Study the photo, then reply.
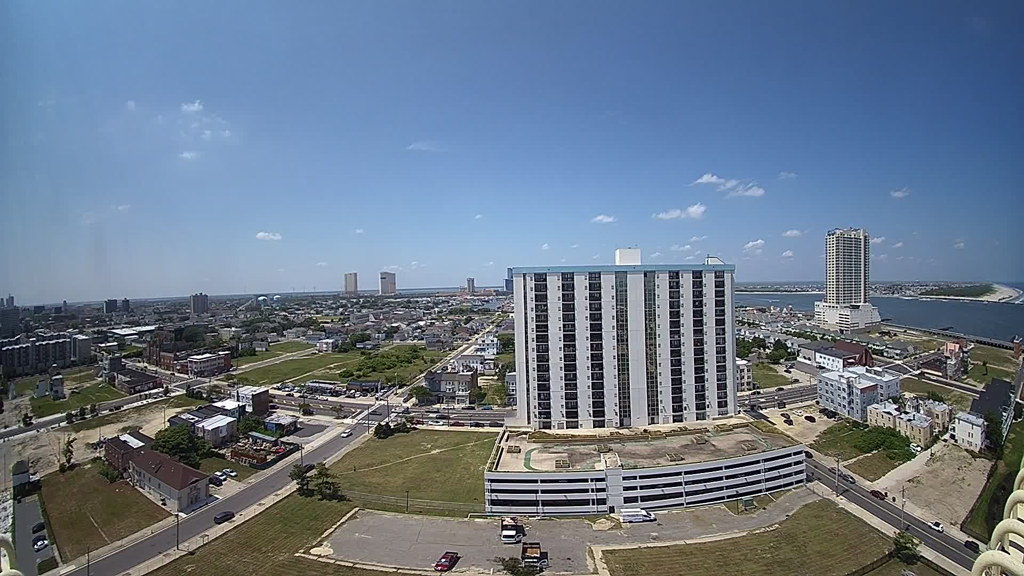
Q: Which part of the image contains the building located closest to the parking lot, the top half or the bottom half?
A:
bottom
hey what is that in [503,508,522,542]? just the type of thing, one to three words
vehicle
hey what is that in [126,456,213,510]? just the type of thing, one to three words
house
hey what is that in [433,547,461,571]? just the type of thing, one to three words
truck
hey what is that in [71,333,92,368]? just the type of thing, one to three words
building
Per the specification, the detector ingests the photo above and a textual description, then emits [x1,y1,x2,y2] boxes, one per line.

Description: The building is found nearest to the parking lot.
[484,416,805,516]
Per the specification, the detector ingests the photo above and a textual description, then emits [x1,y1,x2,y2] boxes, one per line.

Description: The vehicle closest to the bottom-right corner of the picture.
[959,535,985,550]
